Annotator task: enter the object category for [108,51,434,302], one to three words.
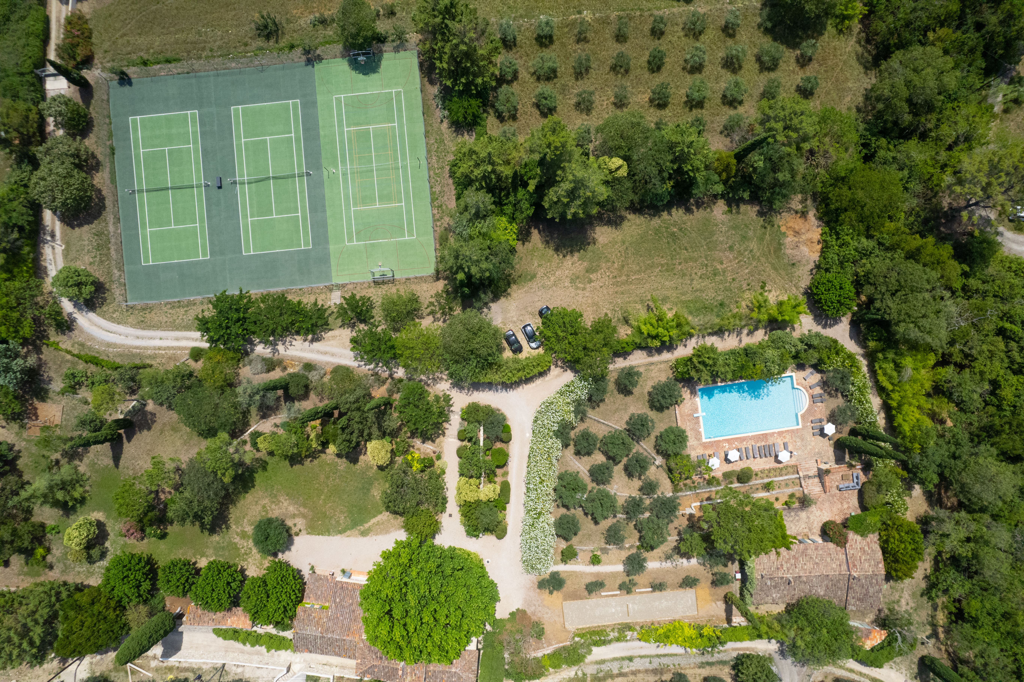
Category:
sports court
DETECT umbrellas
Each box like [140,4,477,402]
[777,449,790,463]
[823,421,836,436]
[707,456,721,469]
[727,448,740,462]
